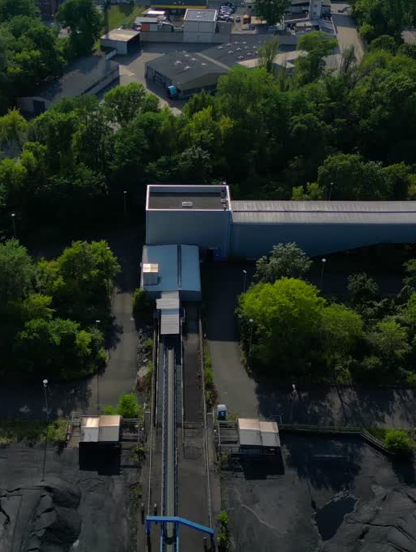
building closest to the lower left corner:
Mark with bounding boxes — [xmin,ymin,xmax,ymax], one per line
[82,413,122,451]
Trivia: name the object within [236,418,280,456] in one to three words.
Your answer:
building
